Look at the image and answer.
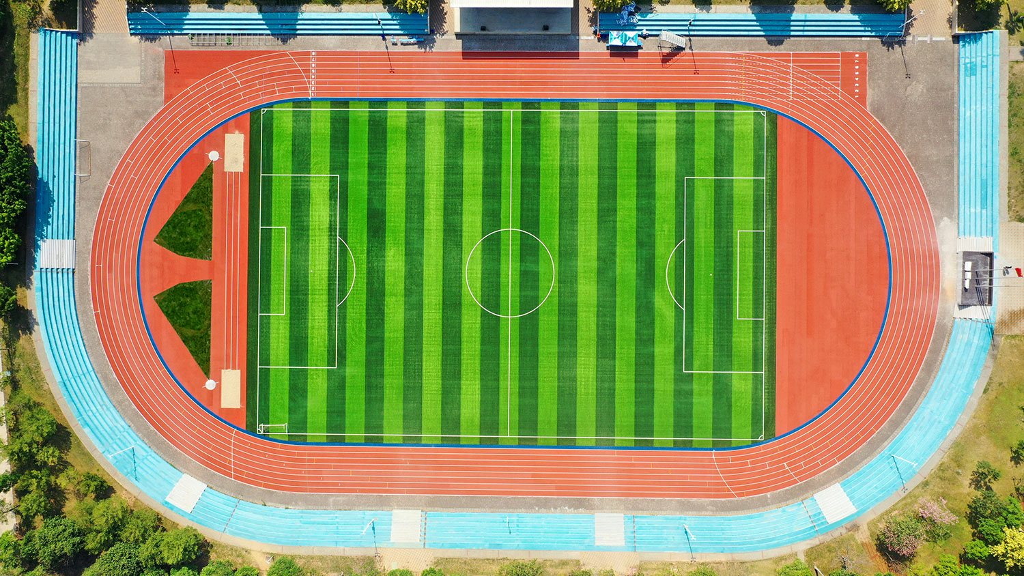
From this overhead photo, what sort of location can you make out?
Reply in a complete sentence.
This looks like a sports ground.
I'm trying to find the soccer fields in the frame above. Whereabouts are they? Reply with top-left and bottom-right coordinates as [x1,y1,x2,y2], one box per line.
[246,101,777,447]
